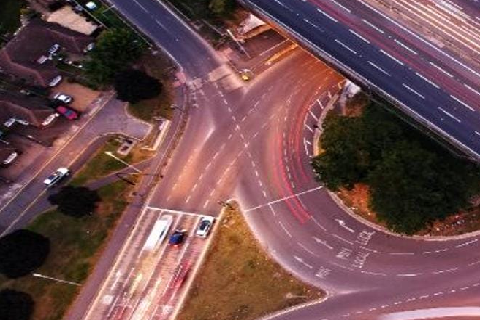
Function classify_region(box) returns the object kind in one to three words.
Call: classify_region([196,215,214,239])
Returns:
car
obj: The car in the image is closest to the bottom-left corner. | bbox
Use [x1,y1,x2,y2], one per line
[44,166,71,188]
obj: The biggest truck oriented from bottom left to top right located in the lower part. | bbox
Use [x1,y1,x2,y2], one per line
[133,209,175,255]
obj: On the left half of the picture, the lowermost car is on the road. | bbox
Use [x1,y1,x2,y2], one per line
[173,262,191,286]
